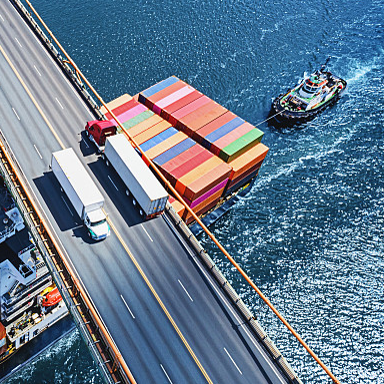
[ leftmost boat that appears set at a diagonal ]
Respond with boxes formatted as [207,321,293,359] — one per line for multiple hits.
[40,290,63,309]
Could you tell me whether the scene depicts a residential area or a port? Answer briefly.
port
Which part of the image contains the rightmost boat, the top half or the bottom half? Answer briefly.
top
